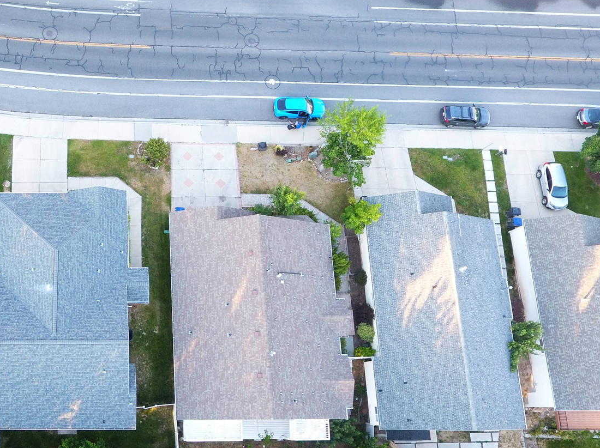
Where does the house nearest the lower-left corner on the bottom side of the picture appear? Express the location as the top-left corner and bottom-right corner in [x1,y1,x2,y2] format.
[0,185,149,434]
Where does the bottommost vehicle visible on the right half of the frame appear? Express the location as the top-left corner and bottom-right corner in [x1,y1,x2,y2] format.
[536,161,569,210]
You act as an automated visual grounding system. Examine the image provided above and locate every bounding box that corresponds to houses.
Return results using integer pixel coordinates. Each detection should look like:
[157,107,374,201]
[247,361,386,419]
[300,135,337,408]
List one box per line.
[0,185,149,434]
[506,214,600,429]
[356,189,528,443]
[169,205,355,441]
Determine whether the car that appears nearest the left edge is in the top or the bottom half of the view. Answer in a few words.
top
